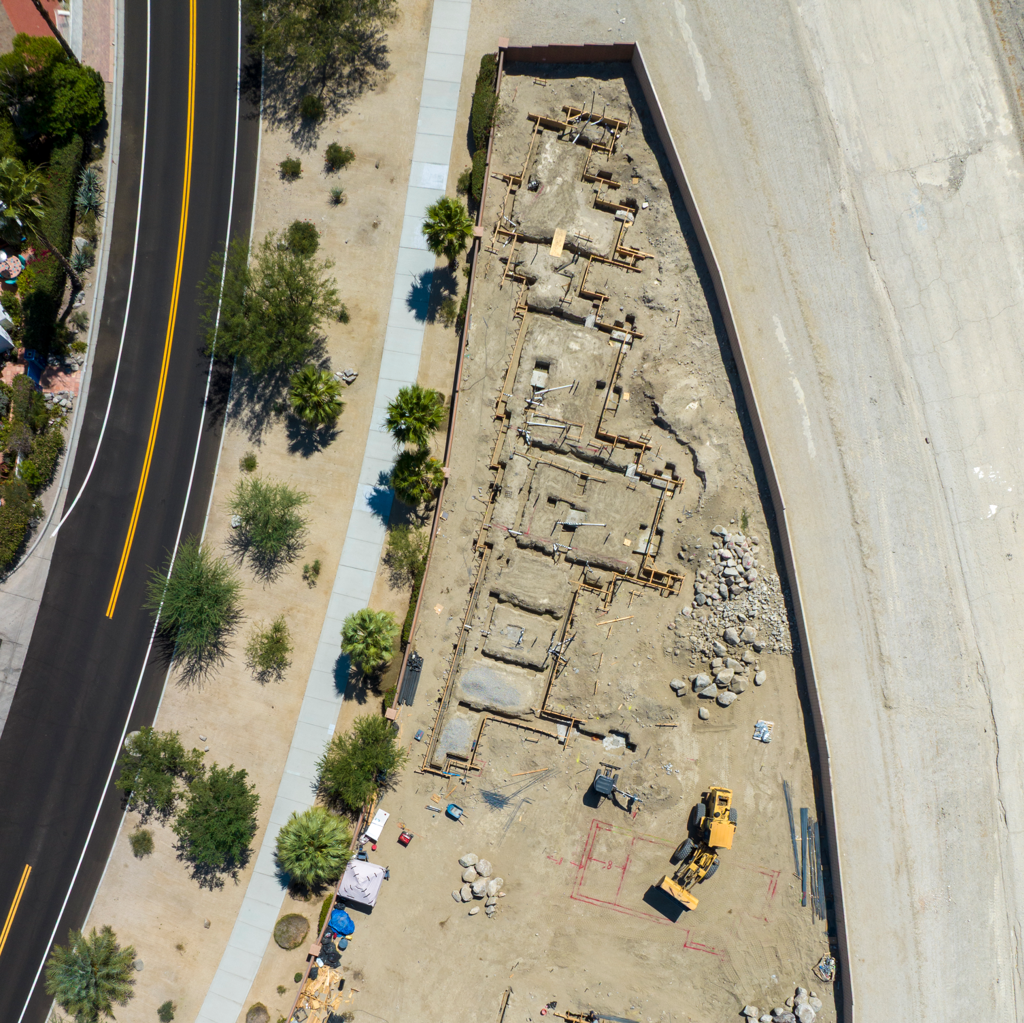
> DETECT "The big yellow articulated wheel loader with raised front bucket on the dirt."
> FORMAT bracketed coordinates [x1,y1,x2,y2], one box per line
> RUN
[655,784,738,913]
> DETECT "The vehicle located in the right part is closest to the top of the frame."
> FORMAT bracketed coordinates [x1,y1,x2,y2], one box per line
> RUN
[591,761,642,802]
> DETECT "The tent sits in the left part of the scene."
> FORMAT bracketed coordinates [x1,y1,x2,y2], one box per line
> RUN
[337,853,389,906]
